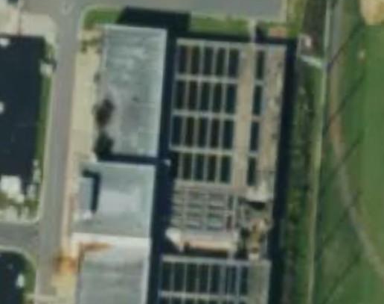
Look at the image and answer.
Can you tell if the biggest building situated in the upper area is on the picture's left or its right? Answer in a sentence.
It is on the left.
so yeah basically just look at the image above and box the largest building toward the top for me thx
[94,26,166,164]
